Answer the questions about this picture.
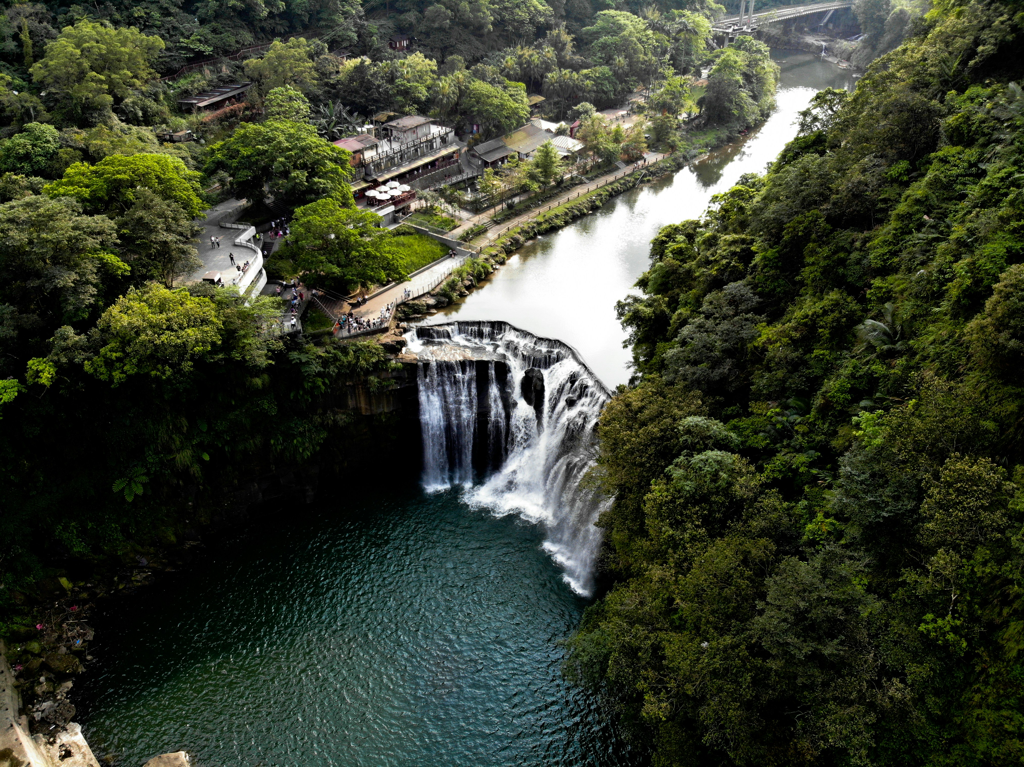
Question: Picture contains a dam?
Yes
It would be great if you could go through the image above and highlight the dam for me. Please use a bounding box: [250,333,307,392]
[412,322,614,417]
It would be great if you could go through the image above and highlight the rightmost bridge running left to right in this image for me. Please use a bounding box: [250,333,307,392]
[712,0,837,38]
